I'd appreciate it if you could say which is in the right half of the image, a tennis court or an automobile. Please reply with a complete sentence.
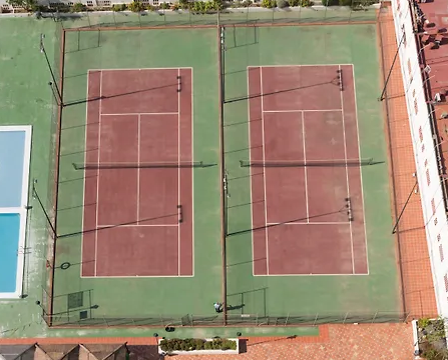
Visible in the right half of the image is a tennis court.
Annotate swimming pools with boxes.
[0,126,31,208]
[0,207,27,297]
